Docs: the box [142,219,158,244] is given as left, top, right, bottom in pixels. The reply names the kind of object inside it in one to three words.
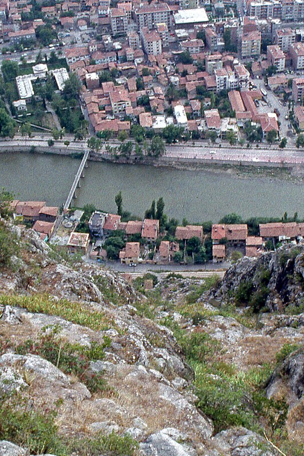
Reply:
house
